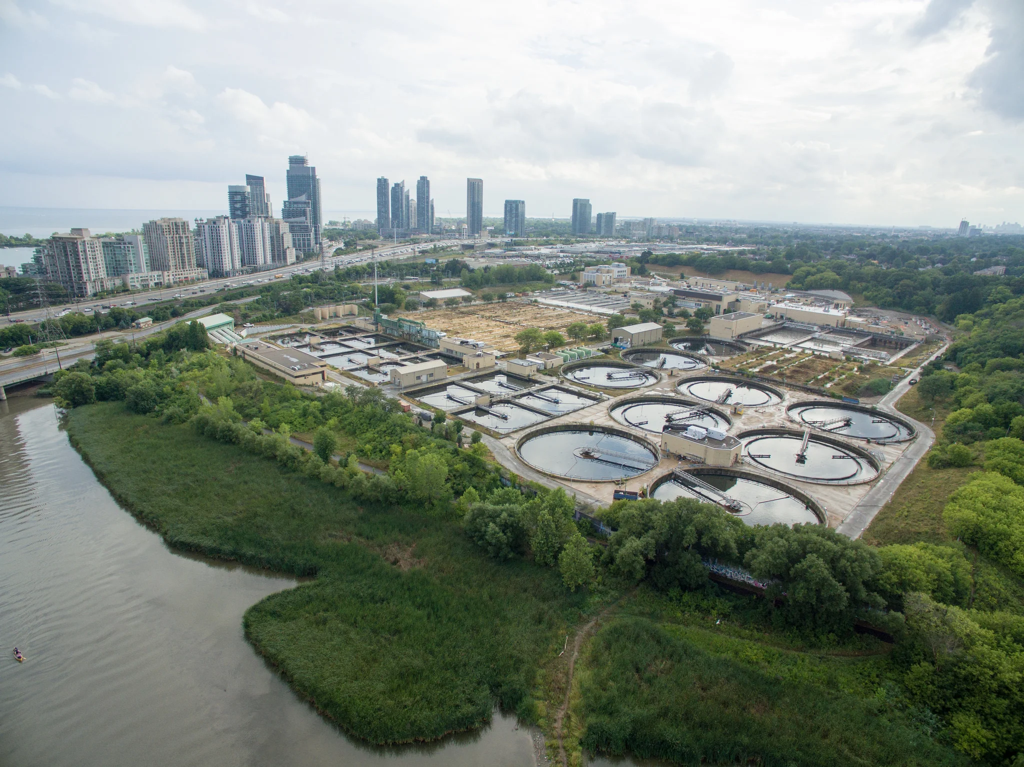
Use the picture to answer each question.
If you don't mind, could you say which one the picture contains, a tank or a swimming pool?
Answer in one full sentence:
There is a tank in the scene.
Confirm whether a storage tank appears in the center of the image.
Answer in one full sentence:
Yes, a storage tank appears in the center of the image.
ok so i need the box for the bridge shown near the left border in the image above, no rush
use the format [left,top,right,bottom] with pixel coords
[0,336,128,401]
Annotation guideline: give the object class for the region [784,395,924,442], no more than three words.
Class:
storage tank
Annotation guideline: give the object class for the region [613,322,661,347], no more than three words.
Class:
shed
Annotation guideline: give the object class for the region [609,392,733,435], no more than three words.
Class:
storage tank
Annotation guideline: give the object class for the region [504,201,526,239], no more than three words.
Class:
building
